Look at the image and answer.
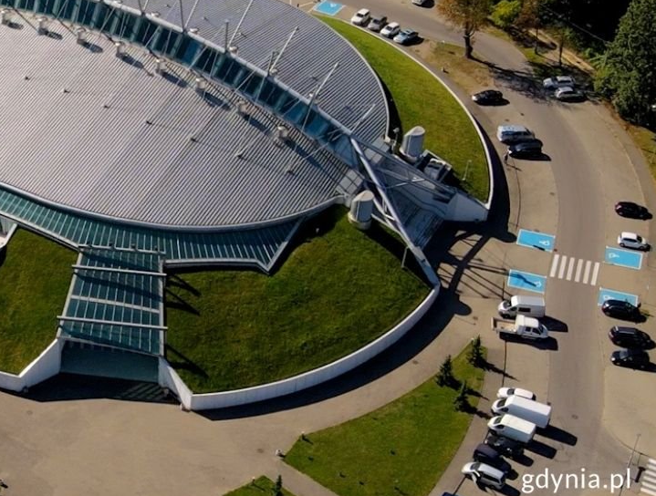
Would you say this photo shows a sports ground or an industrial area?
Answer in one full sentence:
What you see here is a sports ground.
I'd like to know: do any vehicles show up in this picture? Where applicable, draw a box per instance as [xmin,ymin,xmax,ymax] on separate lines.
[498,291,548,316]
[471,447,515,477]
[501,125,532,142]
[472,90,505,104]
[495,314,546,340]
[486,412,539,444]
[365,15,391,31]
[461,461,505,490]
[378,19,401,37]
[498,385,534,399]
[617,232,651,252]
[409,0,430,5]
[349,5,371,24]
[611,327,651,348]
[610,351,652,371]
[606,298,639,320]
[554,89,588,103]
[493,392,552,425]
[483,434,528,460]
[617,201,649,220]
[509,142,544,157]
[393,30,421,45]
